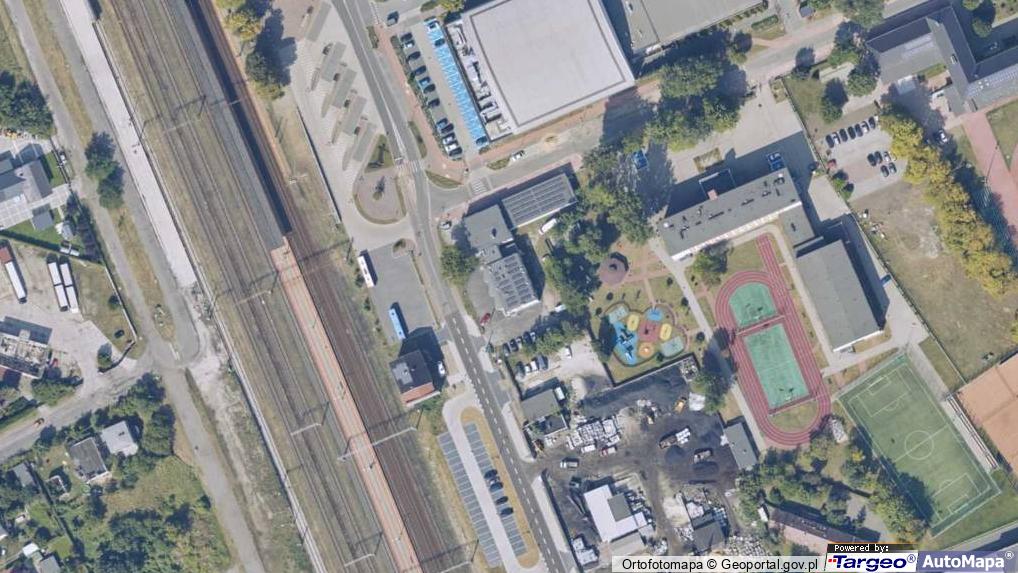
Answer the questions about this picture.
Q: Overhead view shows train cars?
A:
No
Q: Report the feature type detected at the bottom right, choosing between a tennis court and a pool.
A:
tennis court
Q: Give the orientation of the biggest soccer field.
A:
at an angle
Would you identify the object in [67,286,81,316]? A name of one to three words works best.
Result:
vehicle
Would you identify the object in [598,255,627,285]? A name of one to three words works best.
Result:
gazebo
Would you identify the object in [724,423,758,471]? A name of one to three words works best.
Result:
building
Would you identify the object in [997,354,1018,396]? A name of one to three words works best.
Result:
tennis court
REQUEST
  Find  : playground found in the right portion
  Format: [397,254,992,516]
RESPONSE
[603,301,688,367]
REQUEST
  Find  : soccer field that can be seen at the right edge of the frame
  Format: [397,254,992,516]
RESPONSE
[838,352,1001,536]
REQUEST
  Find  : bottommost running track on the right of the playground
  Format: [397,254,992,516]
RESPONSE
[719,238,829,450]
